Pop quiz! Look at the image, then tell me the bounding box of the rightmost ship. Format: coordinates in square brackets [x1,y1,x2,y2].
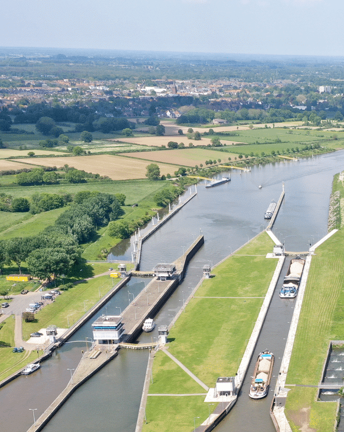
[278,255,308,297]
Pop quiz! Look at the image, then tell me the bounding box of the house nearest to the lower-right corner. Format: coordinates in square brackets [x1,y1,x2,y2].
[212,376,234,396]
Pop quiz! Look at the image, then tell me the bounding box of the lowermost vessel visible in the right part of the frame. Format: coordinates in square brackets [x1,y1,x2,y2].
[246,341,276,397]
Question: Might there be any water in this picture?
Yes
